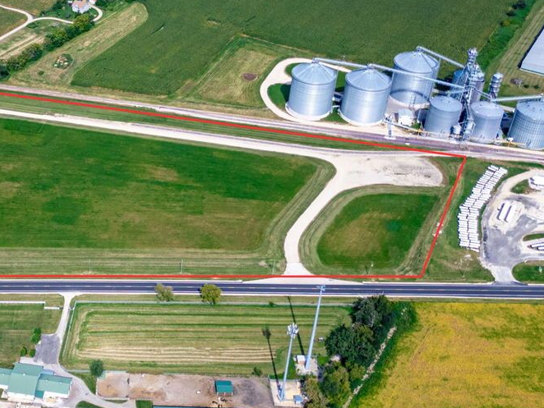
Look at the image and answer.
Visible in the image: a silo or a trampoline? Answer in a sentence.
Of the two, only a silo appears.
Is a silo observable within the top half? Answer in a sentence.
Yes, within the top half there is a silo.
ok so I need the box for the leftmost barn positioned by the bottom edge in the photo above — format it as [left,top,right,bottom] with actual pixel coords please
[0,363,74,401]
